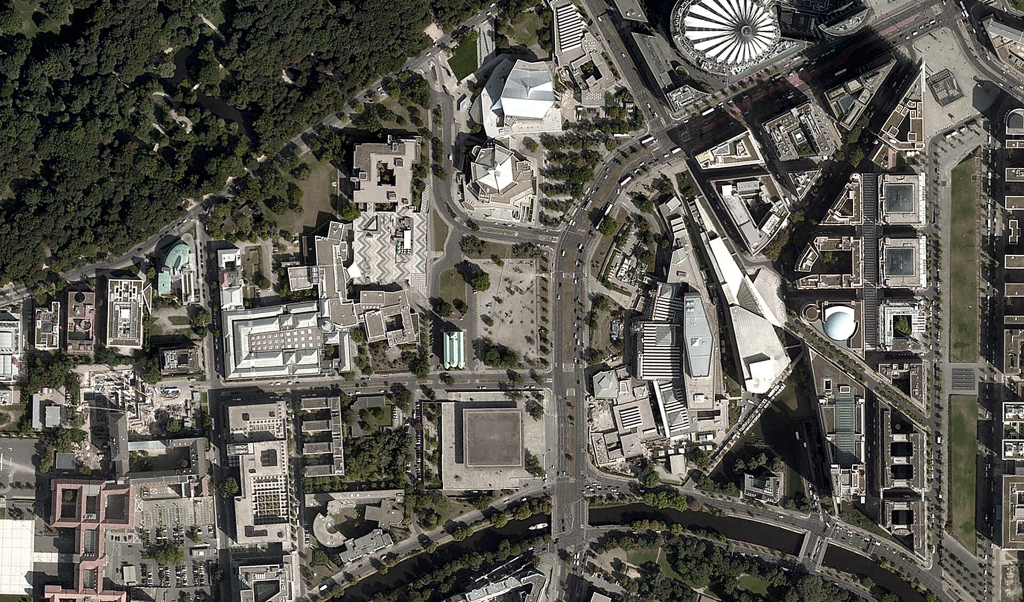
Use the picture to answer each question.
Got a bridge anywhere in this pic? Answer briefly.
Yes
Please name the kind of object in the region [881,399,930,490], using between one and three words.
building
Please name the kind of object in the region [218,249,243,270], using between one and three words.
house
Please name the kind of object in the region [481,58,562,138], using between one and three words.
building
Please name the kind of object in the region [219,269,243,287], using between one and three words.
house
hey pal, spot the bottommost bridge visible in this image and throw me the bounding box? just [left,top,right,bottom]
[798,533,831,573]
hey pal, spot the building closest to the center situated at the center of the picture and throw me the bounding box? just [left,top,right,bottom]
[444,331,465,369]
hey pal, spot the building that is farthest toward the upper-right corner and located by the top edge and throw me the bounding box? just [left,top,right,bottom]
[984,11,1024,74]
